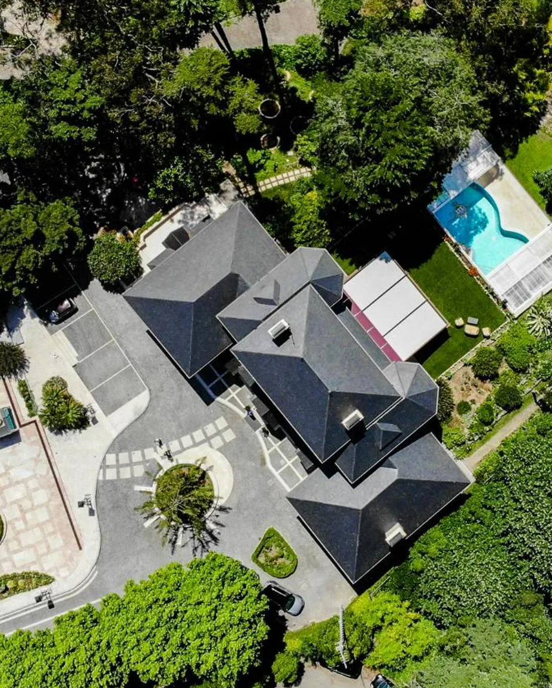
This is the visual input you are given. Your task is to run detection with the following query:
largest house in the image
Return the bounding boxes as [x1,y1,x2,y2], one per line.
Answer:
[124,201,471,583]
